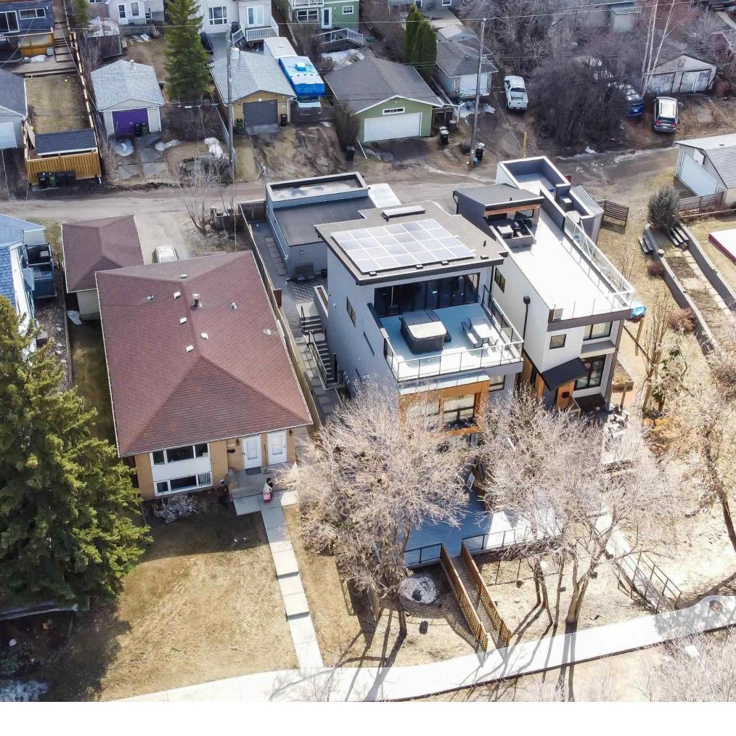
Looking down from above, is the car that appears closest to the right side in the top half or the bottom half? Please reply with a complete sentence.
The car that appears closest to the right side is in the top half of the image.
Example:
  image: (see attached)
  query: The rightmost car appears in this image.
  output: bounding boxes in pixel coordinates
[652,98,682,129]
